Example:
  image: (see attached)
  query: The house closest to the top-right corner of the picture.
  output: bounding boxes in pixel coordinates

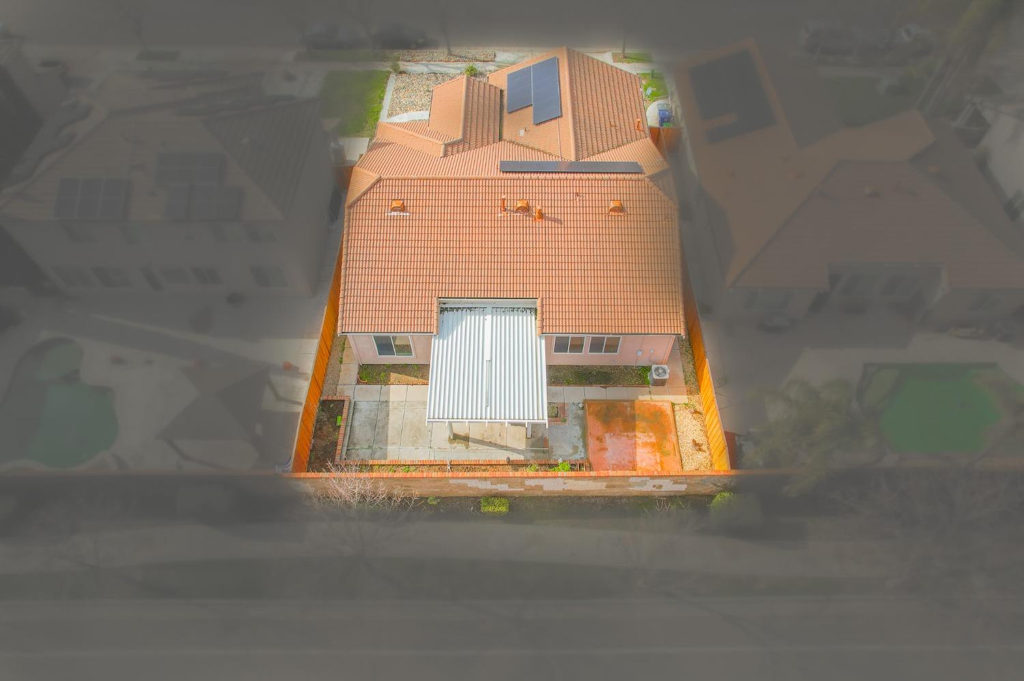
[673,33,1024,322]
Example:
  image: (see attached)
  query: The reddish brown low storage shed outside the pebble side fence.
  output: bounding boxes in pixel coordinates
[716,432,748,472]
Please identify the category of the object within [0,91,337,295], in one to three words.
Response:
house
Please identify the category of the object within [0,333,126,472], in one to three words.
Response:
swimming pool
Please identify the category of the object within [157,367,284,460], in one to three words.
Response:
gazebo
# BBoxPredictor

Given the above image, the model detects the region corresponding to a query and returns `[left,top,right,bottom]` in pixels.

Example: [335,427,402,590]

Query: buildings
[716,432,748,472]
[336,46,688,366]
[673,33,1024,322]
[0,91,337,295]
